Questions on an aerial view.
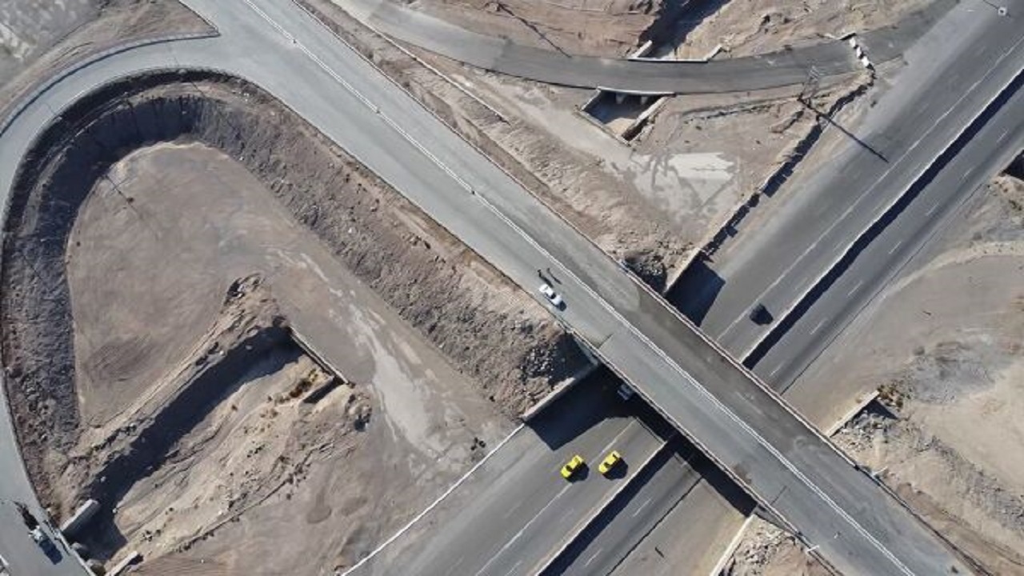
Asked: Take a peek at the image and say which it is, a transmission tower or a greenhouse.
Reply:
transmission tower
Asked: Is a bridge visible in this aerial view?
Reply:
Yes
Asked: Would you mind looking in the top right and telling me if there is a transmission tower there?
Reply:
Yes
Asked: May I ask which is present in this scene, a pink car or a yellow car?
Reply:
yellow car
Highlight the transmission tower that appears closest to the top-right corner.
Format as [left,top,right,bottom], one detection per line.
[799,67,827,107]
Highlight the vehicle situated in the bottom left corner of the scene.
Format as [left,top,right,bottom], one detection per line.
[28,515,50,547]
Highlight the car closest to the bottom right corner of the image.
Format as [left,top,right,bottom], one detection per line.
[749,304,768,322]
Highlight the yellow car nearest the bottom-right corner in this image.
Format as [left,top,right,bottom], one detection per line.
[599,452,621,475]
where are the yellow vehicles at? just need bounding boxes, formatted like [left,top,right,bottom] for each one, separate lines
[560,456,583,479]
[599,452,621,475]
